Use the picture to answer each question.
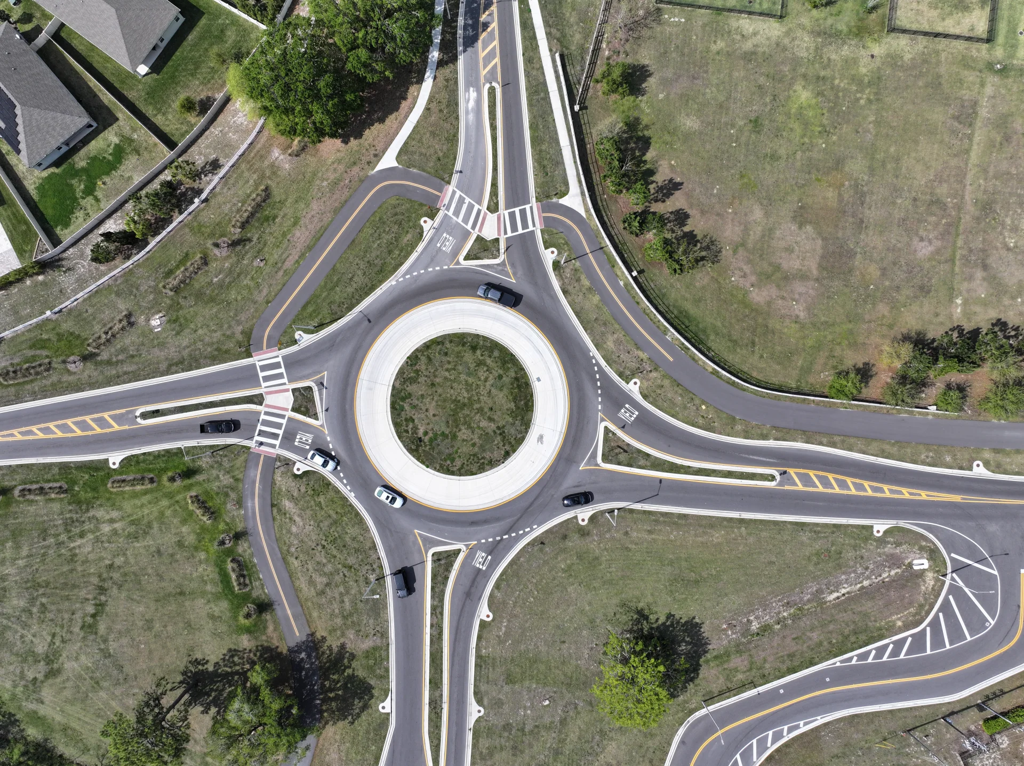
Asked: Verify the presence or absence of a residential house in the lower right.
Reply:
No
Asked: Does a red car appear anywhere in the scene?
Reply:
No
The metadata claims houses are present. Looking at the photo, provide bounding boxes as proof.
[34,0,185,81]
[0,7,100,170]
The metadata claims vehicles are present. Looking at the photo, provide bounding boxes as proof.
[478,285,515,308]
[306,449,338,472]
[372,487,404,509]
[394,569,412,600]
[562,492,593,508]
[197,420,234,436]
